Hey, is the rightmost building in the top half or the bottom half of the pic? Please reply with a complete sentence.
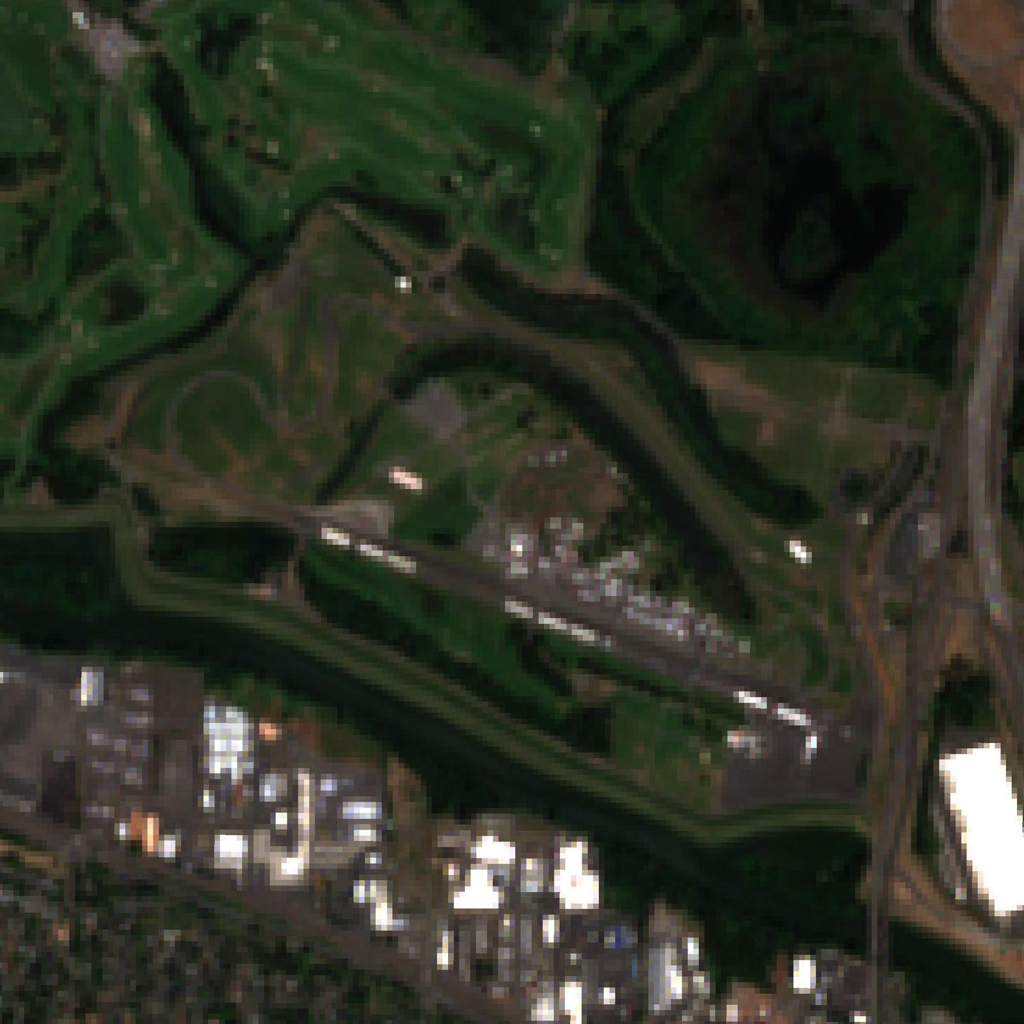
The rightmost building sits in the bottom half of the picture.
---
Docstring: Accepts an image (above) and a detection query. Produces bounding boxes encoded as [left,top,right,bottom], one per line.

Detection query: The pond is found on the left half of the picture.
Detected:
[330,192,446,246]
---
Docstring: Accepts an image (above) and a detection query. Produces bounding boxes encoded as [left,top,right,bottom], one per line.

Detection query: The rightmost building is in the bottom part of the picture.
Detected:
[940,741,1024,917]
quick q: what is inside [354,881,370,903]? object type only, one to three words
shed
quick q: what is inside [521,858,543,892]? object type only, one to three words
building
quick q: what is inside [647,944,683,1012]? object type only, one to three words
building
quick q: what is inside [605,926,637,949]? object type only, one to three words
shed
